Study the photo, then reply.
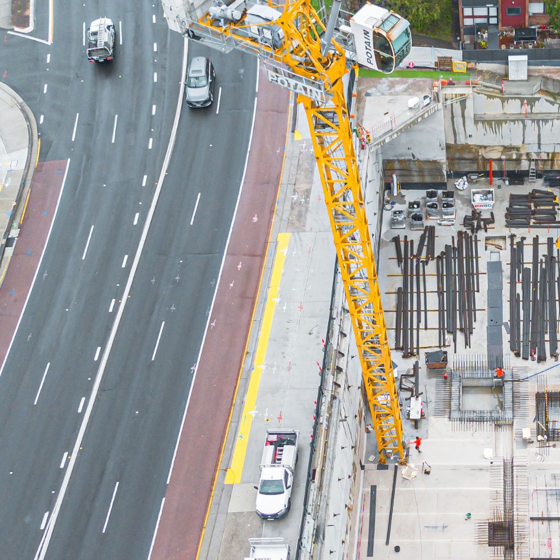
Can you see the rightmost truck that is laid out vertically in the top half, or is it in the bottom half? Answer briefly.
bottom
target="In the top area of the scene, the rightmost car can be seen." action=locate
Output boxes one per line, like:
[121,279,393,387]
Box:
[180,57,213,106]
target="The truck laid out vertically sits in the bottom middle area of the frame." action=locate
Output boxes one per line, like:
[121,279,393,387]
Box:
[250,428,295,523]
